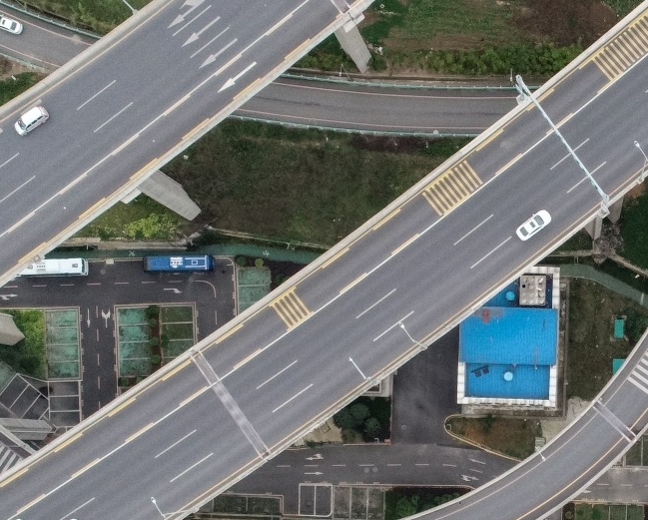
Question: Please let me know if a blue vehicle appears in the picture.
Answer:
Yes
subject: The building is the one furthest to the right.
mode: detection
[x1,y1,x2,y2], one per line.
[458,265,560,407]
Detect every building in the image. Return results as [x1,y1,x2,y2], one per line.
[458,265,560,407]
[358,370,397,397]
